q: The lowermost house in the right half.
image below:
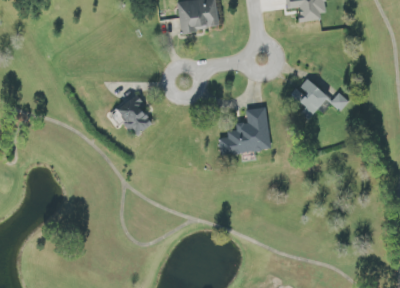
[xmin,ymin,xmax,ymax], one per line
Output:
[218,106,272,156]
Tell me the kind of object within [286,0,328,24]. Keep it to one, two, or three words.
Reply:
house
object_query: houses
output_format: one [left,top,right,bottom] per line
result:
[218,106,272,156]
[117,96,154,136]
[300,80,348,114]
[178,0,218,36]
[286,0,328,24]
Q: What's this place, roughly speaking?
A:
golf course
